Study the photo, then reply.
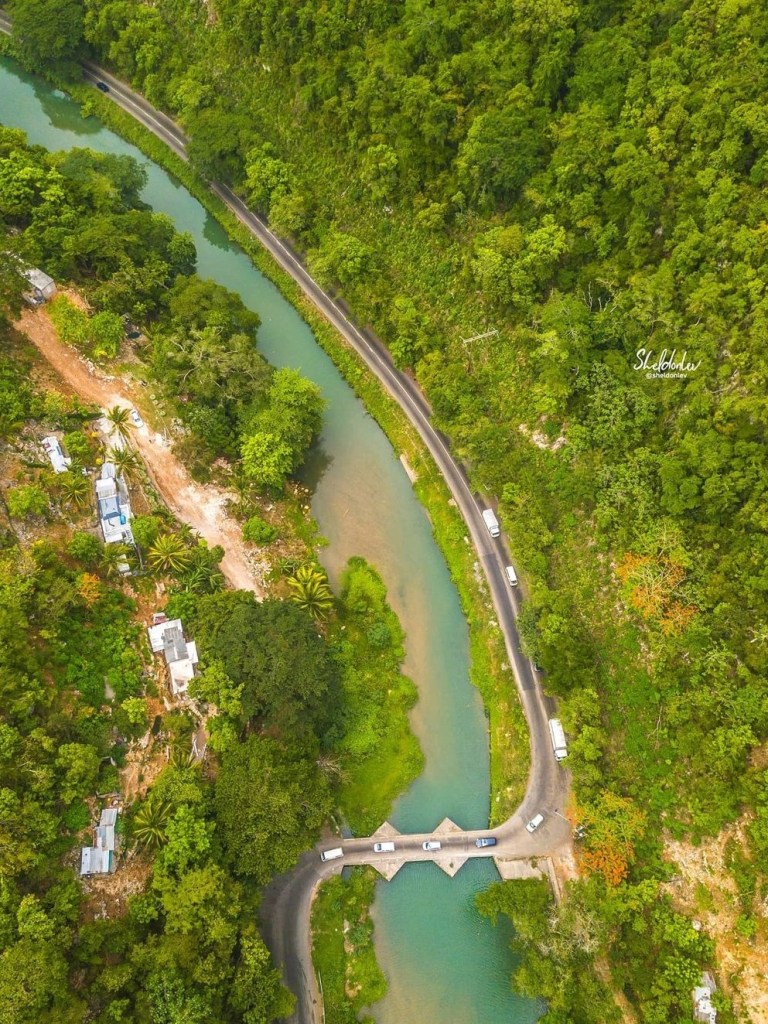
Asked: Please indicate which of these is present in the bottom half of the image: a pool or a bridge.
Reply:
bridge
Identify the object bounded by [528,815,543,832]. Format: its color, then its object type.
white car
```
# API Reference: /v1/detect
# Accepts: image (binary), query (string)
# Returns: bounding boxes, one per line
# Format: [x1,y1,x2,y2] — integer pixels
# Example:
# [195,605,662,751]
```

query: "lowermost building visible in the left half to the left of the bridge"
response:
[81,809,121,875]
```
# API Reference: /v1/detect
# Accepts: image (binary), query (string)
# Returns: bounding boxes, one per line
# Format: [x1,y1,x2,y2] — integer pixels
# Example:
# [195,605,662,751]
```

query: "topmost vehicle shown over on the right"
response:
[483,508,500,535]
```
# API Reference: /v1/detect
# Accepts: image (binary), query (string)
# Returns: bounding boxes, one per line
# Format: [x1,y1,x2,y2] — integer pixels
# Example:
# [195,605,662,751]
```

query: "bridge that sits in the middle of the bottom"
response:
[339,816,547,882]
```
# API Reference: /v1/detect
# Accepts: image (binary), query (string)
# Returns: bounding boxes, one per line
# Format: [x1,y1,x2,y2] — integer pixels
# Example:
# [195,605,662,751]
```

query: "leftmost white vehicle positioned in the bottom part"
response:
[321,847,342,861]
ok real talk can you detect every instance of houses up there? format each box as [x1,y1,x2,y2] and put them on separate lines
[7,254,58,306]
[97,463,137,545]
[42,437,74,477]
[148,610,200,694]
[687,969,717,1024]
[81,809,121,875]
